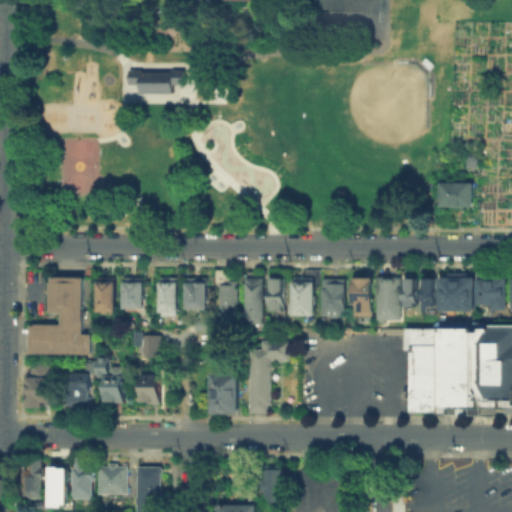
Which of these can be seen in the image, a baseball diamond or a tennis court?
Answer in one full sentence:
Looking from above, you can make out a baseball diamond.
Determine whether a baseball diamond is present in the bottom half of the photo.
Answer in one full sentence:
No, there is no baseball diamond in the bottom half of the photo.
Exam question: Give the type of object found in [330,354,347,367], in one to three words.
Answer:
vehicle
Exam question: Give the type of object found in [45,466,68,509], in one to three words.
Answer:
building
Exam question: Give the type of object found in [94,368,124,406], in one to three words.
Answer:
house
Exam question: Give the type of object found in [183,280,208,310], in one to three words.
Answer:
house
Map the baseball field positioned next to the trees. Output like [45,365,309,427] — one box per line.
[350,62,431,148]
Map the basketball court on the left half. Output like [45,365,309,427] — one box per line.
[62,138,100,196]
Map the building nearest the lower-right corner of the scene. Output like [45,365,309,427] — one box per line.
[403,326,512,414]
